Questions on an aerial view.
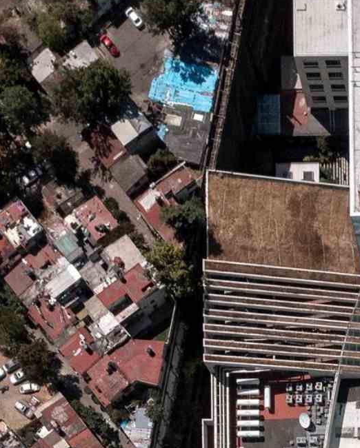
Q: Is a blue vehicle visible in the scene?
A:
No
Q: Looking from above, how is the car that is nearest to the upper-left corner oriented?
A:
diagonally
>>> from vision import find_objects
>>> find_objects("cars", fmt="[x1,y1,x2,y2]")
[0,358,21,375]
[124,6,143,30]
[14,398,34,416]
[8,370,30,389]
[100,33,120,57]
[18,381,43,395]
